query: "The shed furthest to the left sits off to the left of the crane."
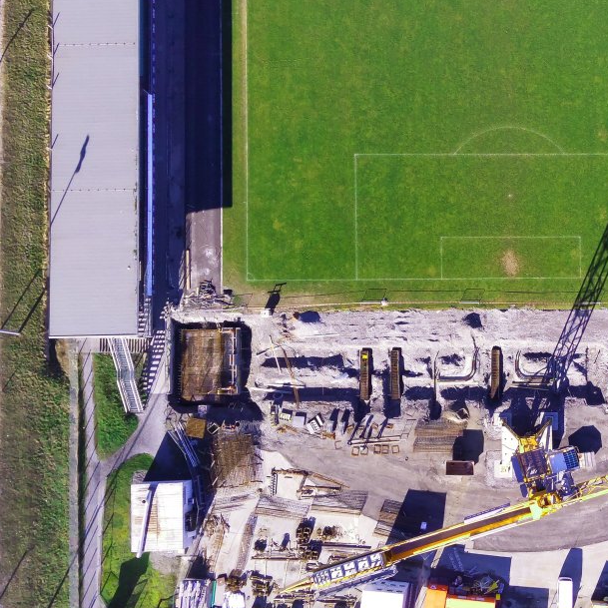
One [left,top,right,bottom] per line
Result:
[131,478,203,559]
